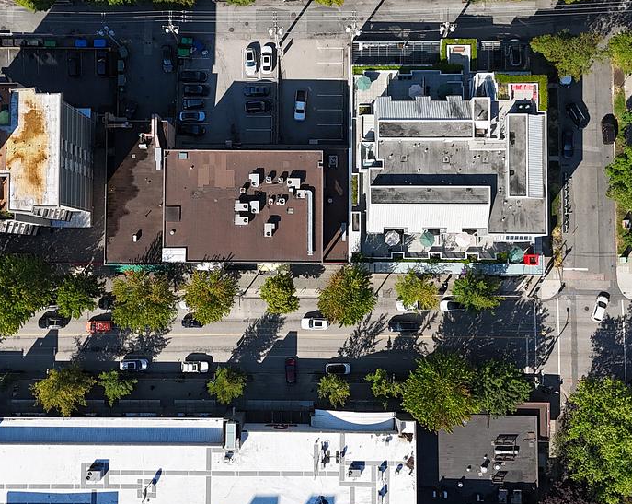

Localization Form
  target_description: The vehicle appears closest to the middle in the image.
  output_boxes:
[301,319,329,331]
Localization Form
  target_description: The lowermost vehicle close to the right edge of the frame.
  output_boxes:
[591,293,608,321]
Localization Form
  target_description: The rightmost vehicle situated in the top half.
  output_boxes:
[602,115,617,144]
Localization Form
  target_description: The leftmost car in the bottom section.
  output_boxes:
[40,318,68,330]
